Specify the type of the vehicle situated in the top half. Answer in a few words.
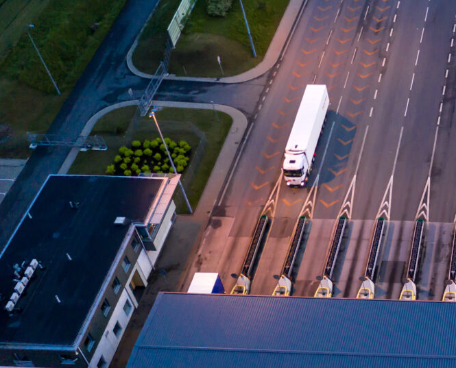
truck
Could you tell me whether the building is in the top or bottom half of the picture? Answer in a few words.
bottom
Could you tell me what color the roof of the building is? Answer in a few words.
black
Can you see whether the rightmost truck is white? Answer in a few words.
Yes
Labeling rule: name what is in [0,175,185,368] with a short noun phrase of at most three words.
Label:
building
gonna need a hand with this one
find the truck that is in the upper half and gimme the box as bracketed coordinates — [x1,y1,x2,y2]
[279,90,329,196]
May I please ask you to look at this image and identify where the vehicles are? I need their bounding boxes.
[188,272,225,292]
[279,90,329,196]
